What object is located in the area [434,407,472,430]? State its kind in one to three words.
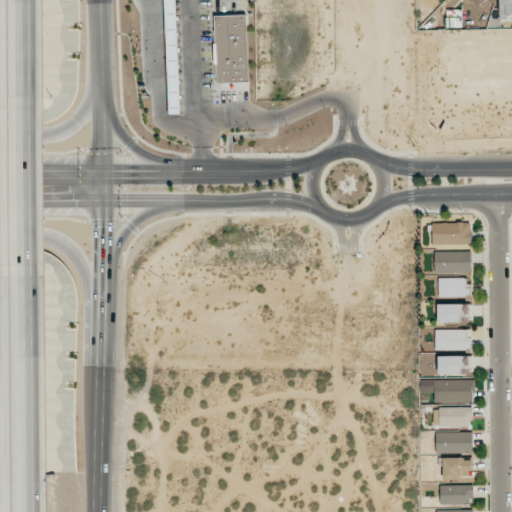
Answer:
house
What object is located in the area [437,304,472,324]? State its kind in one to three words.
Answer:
house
